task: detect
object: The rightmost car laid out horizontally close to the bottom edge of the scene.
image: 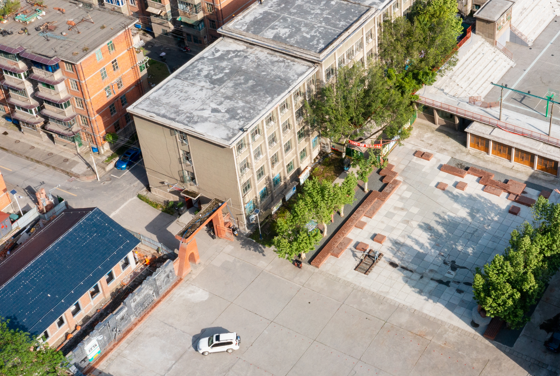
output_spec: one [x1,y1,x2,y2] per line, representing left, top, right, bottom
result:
[197,330,242,357]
